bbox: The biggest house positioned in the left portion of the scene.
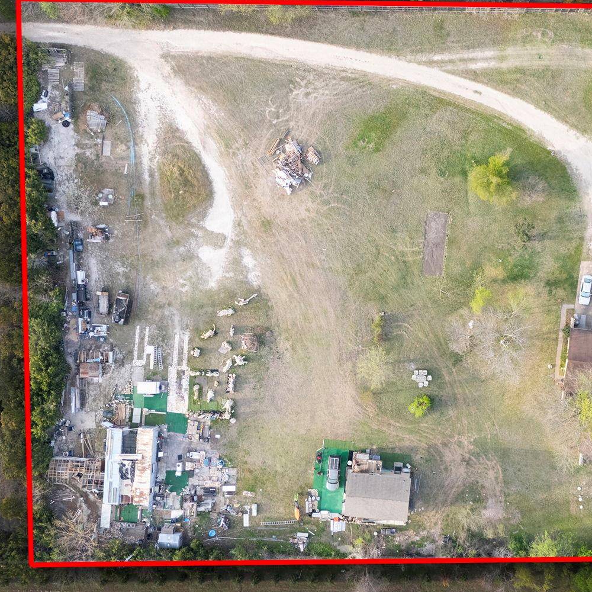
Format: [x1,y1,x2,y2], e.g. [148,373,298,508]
[101,426,159,528]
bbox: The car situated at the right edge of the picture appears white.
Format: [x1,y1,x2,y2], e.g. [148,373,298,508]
[578,275,592,305]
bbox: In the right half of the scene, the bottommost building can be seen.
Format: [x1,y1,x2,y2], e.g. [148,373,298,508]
[342,469,411,525]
